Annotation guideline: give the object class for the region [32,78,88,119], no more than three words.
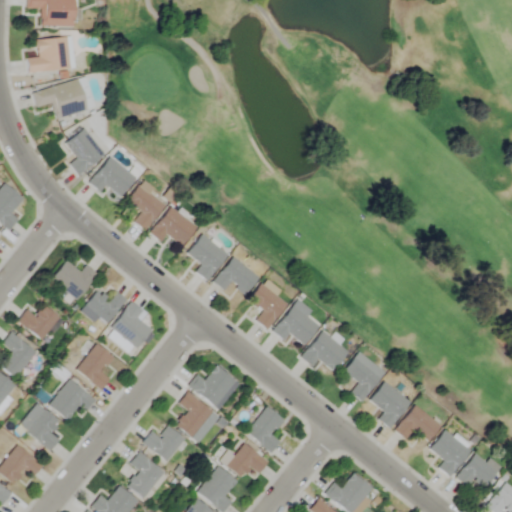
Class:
house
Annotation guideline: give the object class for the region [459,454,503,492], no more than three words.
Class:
house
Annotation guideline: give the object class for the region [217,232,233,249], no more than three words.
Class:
swimming pool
